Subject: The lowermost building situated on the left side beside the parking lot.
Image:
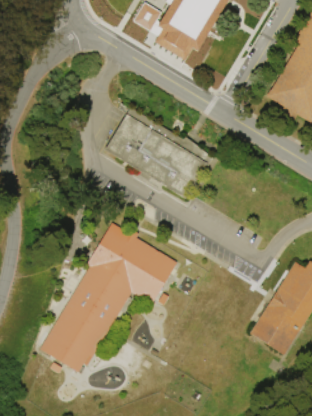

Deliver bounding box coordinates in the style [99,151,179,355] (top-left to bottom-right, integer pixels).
[39,222,176,372]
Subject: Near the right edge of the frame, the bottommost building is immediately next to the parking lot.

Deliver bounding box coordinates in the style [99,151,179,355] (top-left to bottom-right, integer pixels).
[250,262,312,355]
